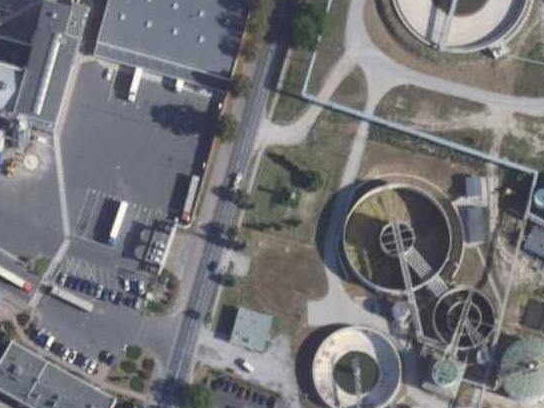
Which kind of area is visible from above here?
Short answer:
industrial area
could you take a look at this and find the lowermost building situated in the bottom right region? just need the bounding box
[389,305,411,337]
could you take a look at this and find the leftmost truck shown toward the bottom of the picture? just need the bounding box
[0,267,34,292]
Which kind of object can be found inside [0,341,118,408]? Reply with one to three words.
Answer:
building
